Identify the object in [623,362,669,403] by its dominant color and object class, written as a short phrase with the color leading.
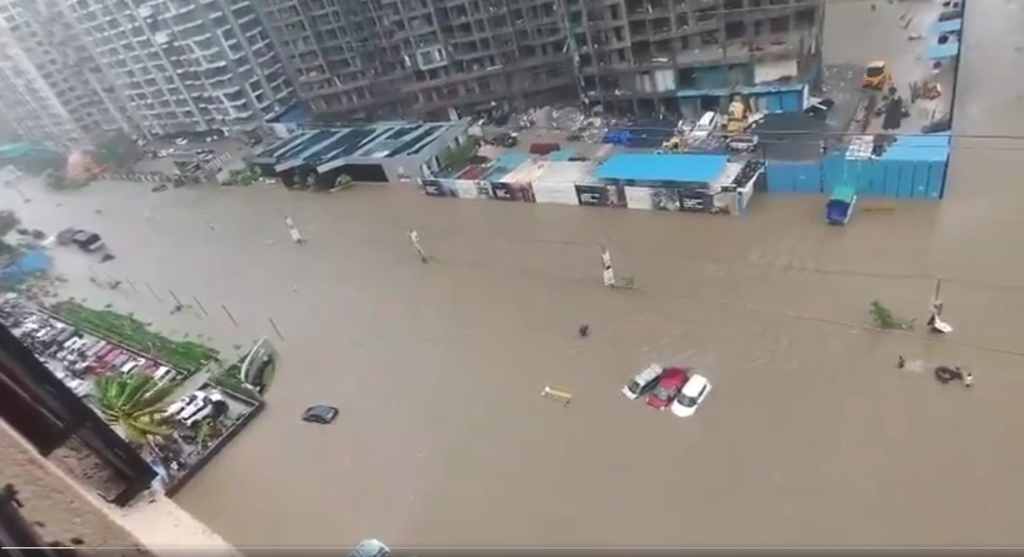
white vehicle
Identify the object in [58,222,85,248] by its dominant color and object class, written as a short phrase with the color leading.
gray car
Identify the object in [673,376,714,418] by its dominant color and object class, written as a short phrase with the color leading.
white car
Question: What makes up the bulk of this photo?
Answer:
water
